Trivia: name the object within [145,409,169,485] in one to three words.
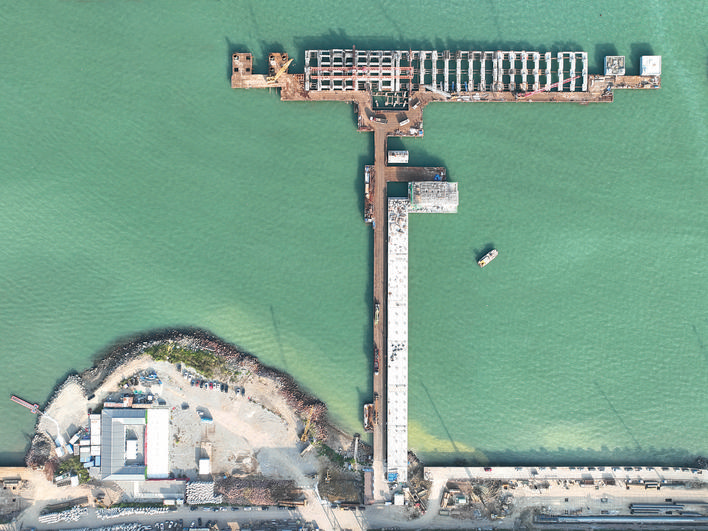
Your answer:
building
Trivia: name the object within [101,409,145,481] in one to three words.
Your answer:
building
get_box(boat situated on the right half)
[478,250,498,268]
